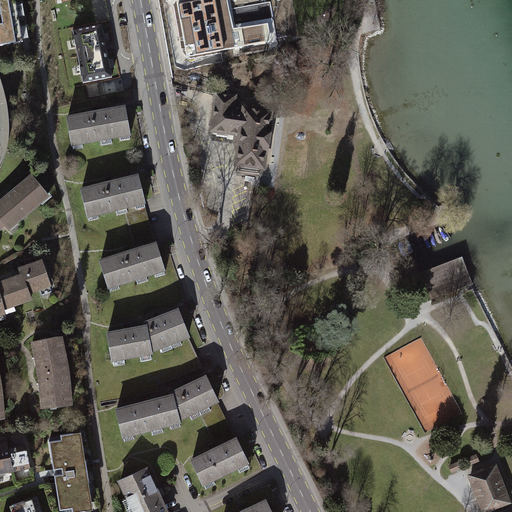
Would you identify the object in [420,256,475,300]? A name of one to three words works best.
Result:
building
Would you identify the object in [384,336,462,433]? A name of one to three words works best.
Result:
tennis court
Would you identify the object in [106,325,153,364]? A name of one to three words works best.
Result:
house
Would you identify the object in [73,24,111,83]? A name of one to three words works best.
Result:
house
